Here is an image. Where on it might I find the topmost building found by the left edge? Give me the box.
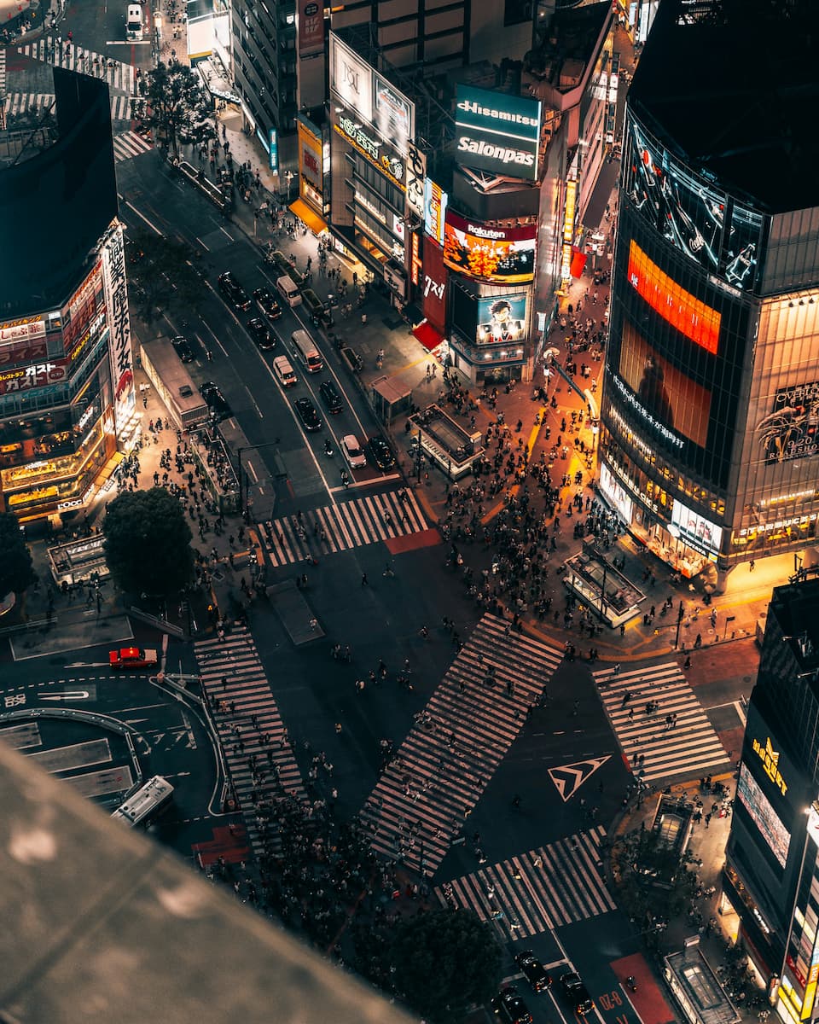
[0,100,57,145]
